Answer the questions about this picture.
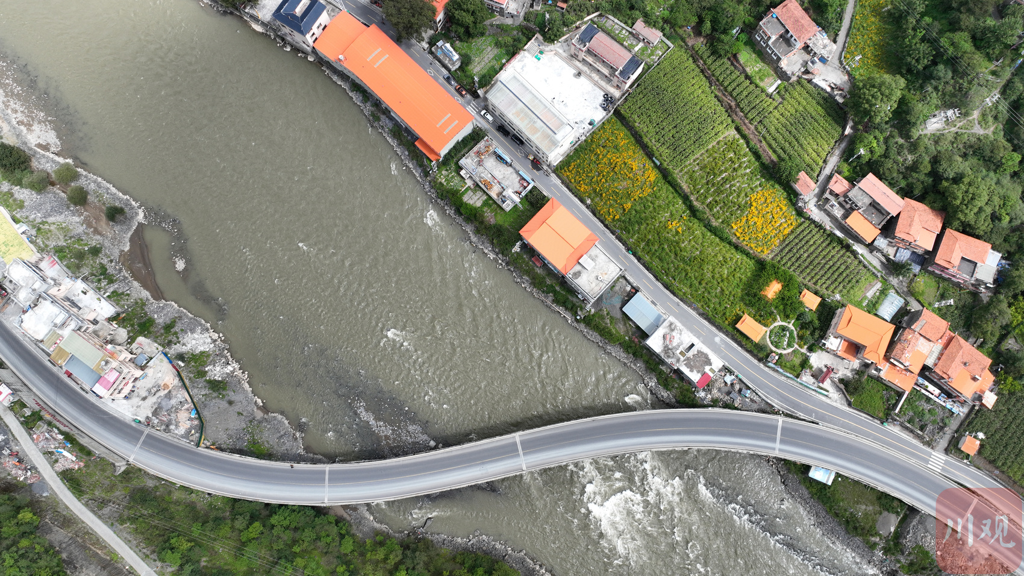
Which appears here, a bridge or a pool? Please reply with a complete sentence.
Of the two, only a bridge appears.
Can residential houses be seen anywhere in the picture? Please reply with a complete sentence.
Yes, a residential house can be made out from above.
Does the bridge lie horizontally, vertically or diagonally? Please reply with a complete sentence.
From this overhead view, the bridge appears to run horizontally.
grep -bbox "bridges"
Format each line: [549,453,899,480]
[129,409,976,529]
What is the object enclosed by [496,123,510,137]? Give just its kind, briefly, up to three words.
car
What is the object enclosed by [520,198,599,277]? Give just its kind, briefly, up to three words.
house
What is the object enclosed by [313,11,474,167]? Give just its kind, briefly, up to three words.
building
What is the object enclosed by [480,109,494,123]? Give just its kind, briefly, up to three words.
car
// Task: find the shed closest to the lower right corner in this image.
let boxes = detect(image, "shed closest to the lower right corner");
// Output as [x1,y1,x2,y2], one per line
[953,436,980,455]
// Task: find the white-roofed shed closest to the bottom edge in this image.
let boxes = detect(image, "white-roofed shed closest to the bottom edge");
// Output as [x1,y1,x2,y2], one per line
[805,466,836,485]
